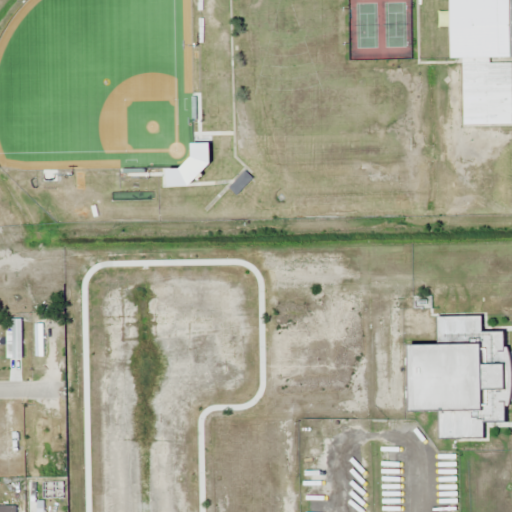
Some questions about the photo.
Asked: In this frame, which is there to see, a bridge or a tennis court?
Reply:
tennis court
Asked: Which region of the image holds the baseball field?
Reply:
top left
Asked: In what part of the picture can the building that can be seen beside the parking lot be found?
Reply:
bottom right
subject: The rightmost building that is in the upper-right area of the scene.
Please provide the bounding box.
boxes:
[450,0,512,62]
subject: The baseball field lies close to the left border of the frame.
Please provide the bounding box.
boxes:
[0,0,193,168]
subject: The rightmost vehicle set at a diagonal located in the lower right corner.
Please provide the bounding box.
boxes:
[412,426,431,446]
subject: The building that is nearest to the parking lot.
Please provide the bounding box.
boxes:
[406,315,512,438]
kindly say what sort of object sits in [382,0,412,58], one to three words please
tennis court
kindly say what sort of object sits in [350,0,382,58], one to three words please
tennis court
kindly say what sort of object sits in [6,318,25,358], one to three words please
house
